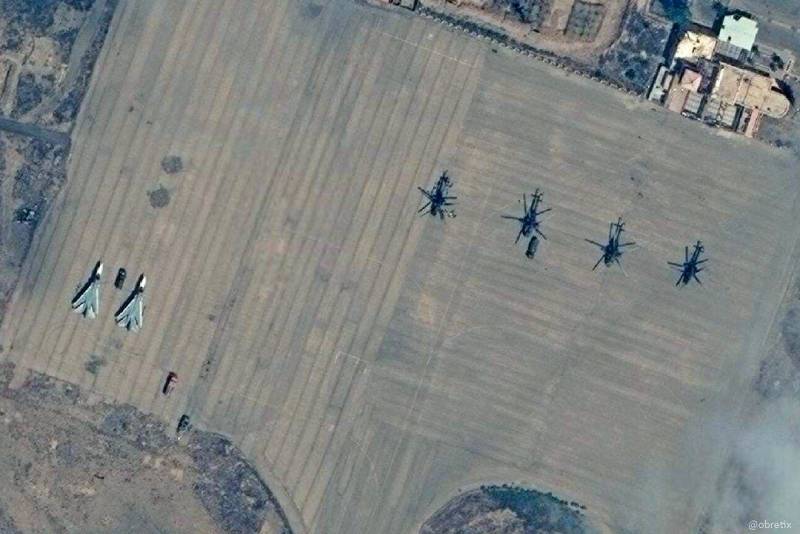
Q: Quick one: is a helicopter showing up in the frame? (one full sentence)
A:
Yes, you can see a helicopter in this photo.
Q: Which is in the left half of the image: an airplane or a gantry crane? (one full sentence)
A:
The one visible in the left half of the image is an airplane.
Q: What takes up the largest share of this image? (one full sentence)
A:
For the most part, this view shows paved ground.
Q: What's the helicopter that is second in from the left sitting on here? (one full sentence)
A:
In this view, the helicopter that is second in from the left is located on the apron.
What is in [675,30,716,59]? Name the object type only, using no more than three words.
house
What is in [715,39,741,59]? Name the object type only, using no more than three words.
shed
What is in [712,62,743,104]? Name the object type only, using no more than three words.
building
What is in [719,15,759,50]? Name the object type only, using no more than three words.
house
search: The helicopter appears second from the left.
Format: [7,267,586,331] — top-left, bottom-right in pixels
[505,193,555,249]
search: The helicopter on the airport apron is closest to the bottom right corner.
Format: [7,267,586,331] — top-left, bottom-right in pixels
[671,244,712,291]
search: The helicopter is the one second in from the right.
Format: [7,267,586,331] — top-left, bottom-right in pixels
[589,222,639,278]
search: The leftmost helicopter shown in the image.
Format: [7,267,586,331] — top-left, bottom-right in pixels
[421,177,461,224]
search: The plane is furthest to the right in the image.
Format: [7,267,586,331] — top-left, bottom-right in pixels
[116,276,145,331]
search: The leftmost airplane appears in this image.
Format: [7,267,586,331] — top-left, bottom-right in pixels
[73,264,102,319]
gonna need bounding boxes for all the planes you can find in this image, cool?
[73,264,102,319]
[116,276,145,331]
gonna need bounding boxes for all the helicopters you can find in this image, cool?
[421,177,461,224]
[589,222,639,278]
[505,193,555,249]
[671,244,712,291]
